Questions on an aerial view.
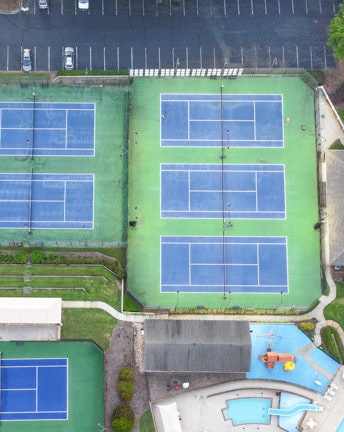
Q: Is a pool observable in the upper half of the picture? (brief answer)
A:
No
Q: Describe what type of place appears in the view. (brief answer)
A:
sports ground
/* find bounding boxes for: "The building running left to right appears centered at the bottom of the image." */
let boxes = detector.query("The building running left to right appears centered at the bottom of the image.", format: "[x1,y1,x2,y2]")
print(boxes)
[144,319,251,373]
